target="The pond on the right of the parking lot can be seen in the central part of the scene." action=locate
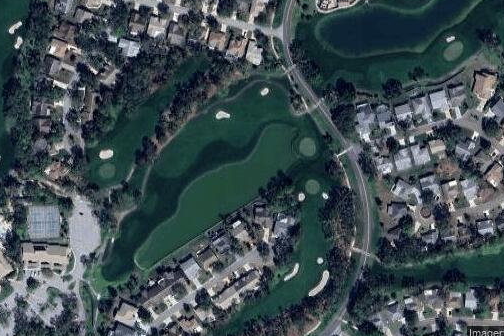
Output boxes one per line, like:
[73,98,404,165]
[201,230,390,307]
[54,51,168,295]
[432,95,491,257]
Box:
[135,124,295,269]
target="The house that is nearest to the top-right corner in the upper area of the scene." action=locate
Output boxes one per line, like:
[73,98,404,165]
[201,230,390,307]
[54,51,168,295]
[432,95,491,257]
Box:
[472,71,499,103]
